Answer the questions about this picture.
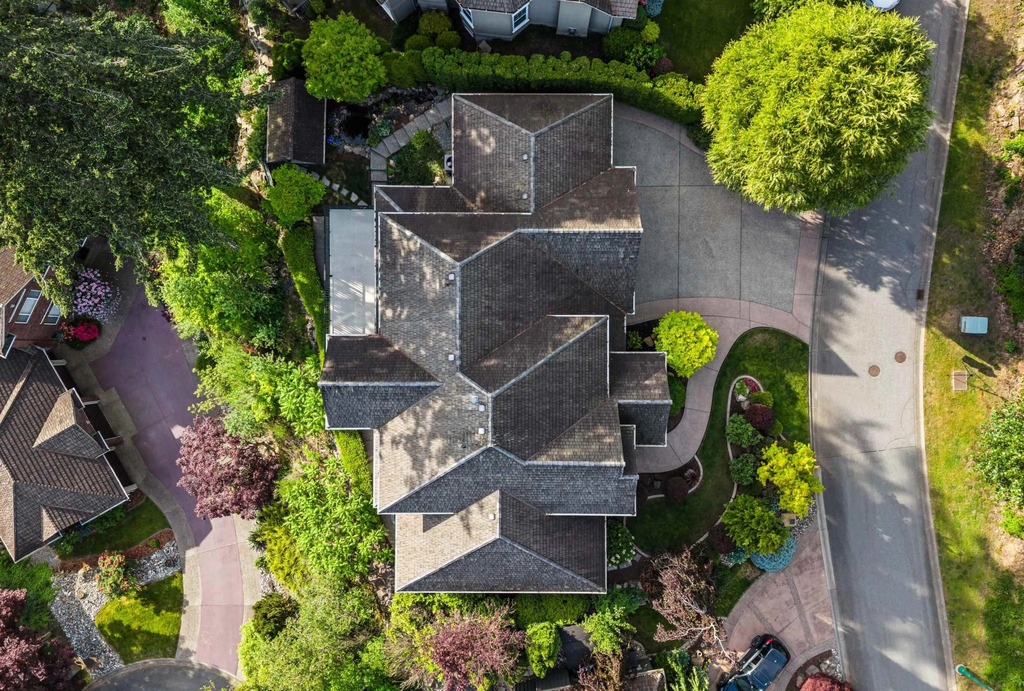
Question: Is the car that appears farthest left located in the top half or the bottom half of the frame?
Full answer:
It is in the bottom half that the car that appears farthest left appears.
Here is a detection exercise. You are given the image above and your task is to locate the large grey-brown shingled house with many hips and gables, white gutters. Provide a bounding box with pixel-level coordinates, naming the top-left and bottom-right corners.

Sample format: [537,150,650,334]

[319,92,673,595]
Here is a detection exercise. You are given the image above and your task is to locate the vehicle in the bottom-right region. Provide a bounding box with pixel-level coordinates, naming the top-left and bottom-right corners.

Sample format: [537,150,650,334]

[722,633,795,691]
